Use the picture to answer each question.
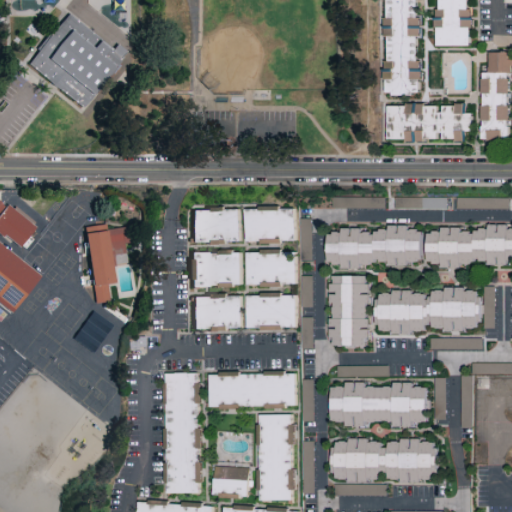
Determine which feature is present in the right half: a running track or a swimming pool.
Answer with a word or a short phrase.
swimming pool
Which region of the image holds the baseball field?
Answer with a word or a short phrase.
top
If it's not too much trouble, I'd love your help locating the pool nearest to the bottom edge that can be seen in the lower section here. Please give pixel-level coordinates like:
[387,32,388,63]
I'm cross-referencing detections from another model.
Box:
[217,432,254,462]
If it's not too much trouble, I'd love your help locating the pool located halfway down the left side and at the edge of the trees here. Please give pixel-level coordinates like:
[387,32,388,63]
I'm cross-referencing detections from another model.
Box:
[116,264,136,298]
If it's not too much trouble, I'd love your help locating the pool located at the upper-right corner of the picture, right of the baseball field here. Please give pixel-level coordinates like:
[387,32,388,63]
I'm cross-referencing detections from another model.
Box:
[443,52,472,94]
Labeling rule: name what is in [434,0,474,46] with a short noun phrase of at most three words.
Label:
building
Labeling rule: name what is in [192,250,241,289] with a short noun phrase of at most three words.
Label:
building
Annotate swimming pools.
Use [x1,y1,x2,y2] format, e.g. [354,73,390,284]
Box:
[116,264,136,298]
[217,432,254,462]
[443,52,472,94]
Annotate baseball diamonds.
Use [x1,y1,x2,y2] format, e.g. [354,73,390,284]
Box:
[196,0,334,92]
